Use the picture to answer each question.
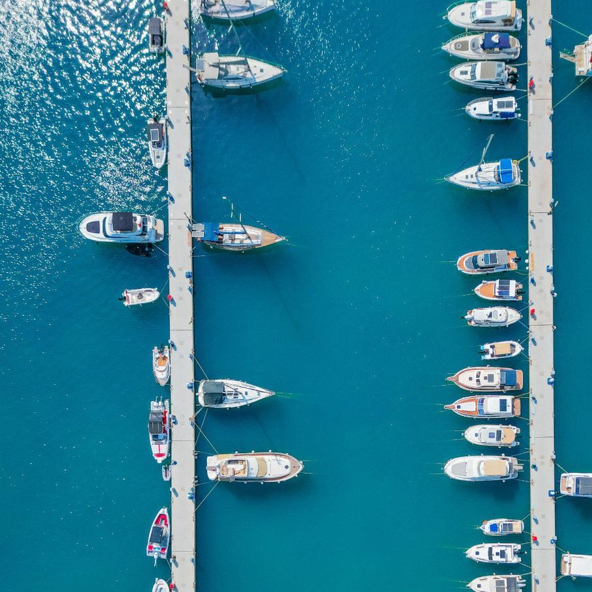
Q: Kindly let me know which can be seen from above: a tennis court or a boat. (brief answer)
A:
boat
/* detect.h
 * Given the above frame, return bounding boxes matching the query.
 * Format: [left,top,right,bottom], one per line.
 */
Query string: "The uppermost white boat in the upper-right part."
[400,0,526,48]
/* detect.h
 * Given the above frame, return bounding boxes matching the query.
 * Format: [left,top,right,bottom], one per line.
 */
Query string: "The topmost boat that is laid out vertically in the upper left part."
[150,16,165,63]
